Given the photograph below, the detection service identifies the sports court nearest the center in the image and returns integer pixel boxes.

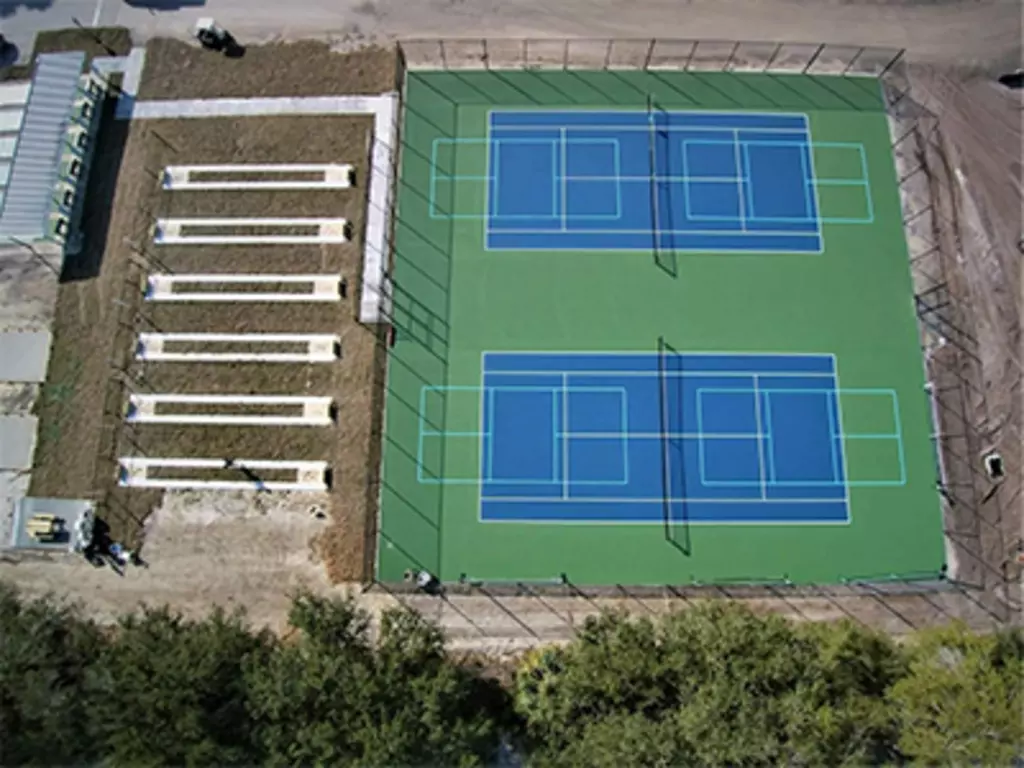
[419,387,628,483]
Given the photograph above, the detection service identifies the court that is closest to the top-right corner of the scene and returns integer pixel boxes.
[683,141,874,221]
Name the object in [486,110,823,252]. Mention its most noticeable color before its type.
blue tennis court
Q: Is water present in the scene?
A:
No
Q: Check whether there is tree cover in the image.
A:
Yes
